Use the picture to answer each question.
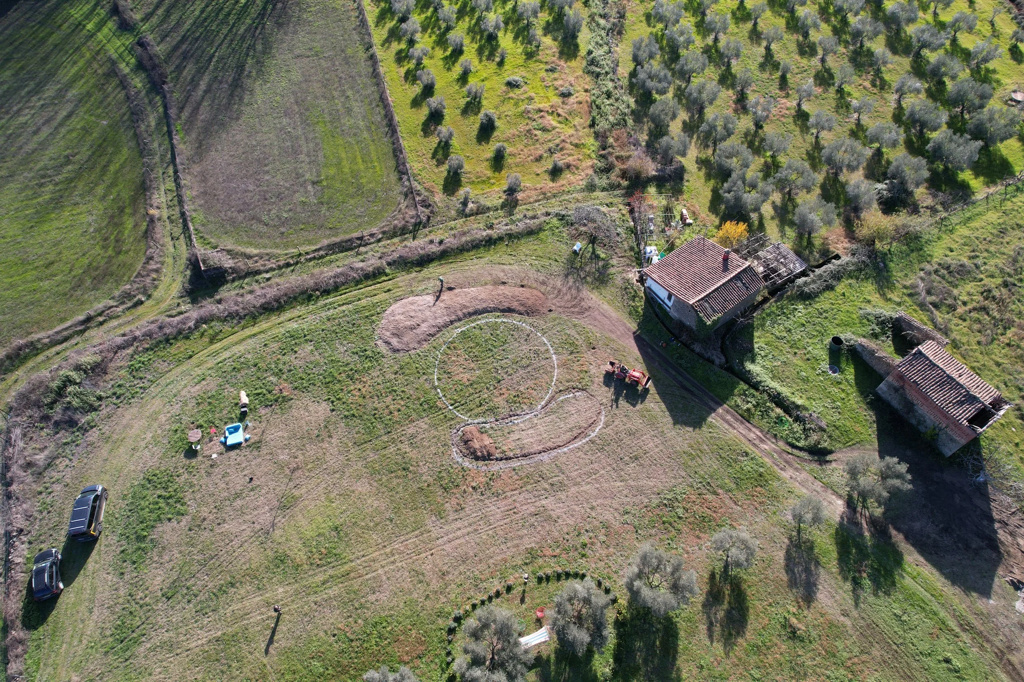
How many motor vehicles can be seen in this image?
3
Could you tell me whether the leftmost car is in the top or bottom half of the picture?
bottom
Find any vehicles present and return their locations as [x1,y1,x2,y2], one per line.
[70,484,109,543]
[31,546,64,605]
[604,361,650,390]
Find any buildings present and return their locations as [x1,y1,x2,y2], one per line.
[750,241,808,287]
[875,341,1017,457]
[639,234,766,339]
